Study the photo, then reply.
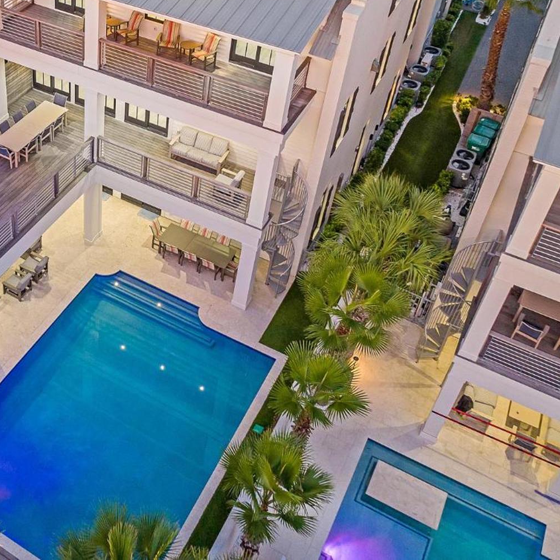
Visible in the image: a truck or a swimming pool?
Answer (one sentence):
I can see a swimming pool in this picture.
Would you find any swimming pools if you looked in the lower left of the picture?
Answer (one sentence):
Yes, looking in the lower left of the picture, one can make out a swimming pool.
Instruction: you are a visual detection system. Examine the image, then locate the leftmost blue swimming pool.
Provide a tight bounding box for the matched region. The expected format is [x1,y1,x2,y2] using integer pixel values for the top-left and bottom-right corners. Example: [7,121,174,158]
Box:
[0,272,288,560]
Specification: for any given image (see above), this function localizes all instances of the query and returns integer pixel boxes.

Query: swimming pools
[0,272,288,560]
[317,436,557,560]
